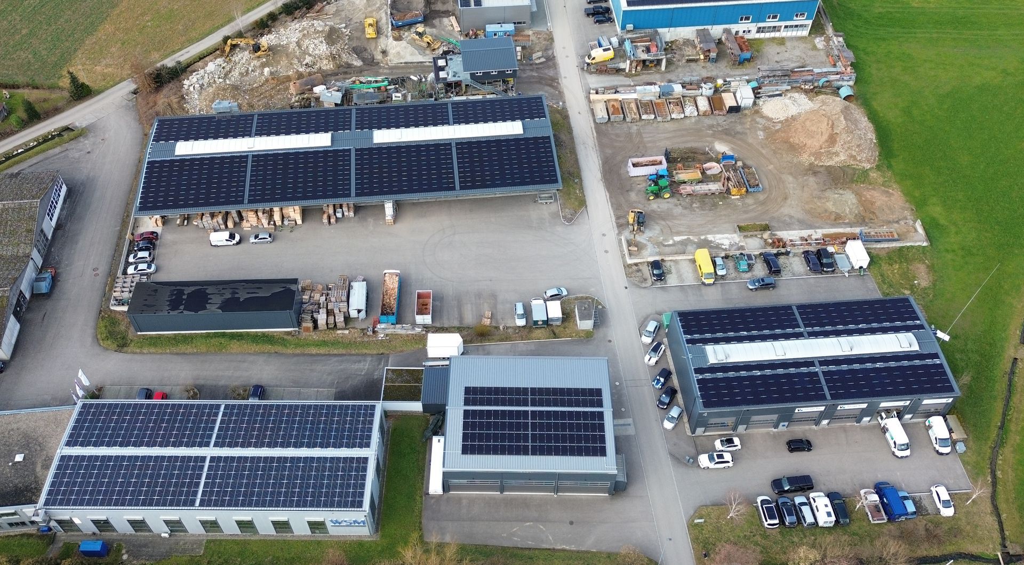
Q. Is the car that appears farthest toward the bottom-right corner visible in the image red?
No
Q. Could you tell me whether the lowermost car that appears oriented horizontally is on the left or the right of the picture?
right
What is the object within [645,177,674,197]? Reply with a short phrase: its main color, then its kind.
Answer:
green work vehicle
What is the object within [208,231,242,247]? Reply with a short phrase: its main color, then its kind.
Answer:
white vehicle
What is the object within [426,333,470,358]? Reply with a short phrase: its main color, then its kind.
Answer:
white trailer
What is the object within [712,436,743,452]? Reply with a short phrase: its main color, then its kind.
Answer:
white car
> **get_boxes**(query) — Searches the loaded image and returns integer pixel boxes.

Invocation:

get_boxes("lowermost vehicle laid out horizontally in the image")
[770,472,817,496]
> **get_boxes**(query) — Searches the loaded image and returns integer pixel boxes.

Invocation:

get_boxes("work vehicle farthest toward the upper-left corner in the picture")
[225,34,272,58]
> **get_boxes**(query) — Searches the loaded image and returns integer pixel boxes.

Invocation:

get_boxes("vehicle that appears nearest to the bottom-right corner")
[930,485,954,517]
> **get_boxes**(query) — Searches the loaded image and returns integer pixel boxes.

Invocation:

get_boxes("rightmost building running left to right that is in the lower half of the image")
[667,295,961,434]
